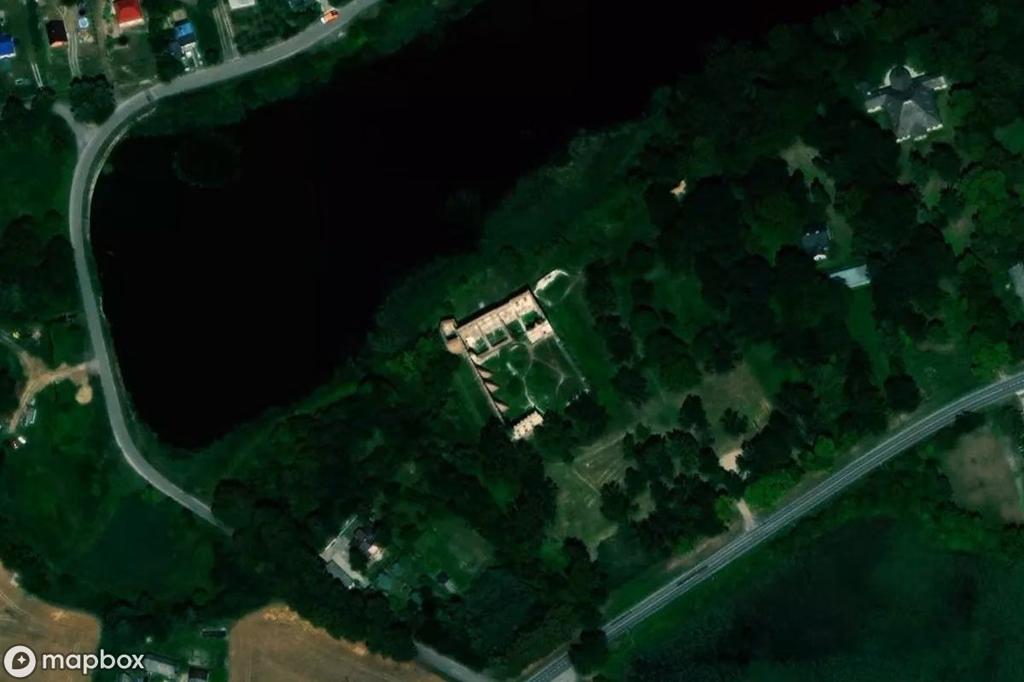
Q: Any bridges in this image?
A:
No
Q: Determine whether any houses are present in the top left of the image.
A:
Yes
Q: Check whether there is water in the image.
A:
Yes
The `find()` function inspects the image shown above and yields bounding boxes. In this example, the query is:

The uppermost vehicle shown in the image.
[321,10,339,22]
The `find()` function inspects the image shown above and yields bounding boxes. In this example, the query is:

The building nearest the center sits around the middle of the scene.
[442,289,555,429]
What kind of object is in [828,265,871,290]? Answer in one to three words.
barn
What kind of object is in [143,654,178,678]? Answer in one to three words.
barn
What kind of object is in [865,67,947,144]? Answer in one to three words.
house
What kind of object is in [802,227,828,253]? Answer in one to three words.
house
